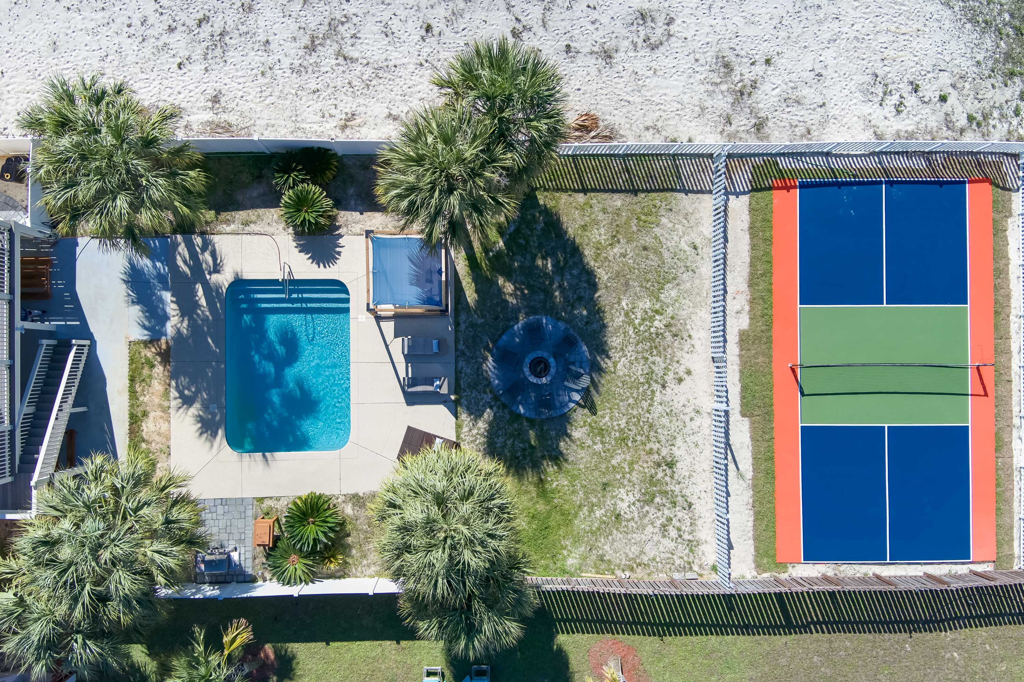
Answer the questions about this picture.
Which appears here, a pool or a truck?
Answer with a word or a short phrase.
pool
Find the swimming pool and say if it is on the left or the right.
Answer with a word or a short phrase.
left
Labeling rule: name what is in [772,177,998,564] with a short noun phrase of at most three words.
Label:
sports court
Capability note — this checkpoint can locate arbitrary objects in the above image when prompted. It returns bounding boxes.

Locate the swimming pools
[226,279,350,453]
